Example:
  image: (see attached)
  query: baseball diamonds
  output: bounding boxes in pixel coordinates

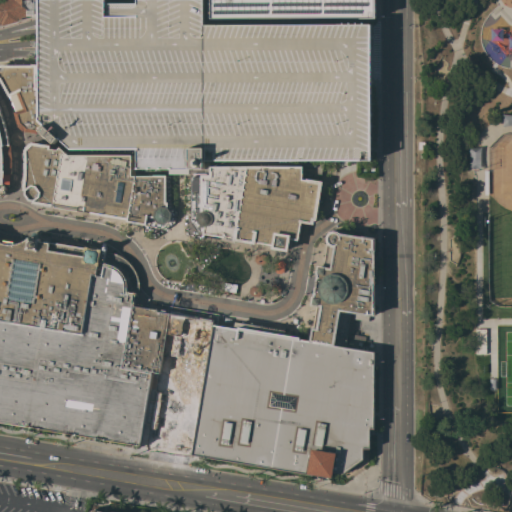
[488,132,512,306]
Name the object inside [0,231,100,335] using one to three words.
building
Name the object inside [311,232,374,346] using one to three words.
building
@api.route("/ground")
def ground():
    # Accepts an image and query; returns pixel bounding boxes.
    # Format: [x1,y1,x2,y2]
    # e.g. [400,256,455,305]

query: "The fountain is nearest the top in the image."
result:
[352,191,368,207]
